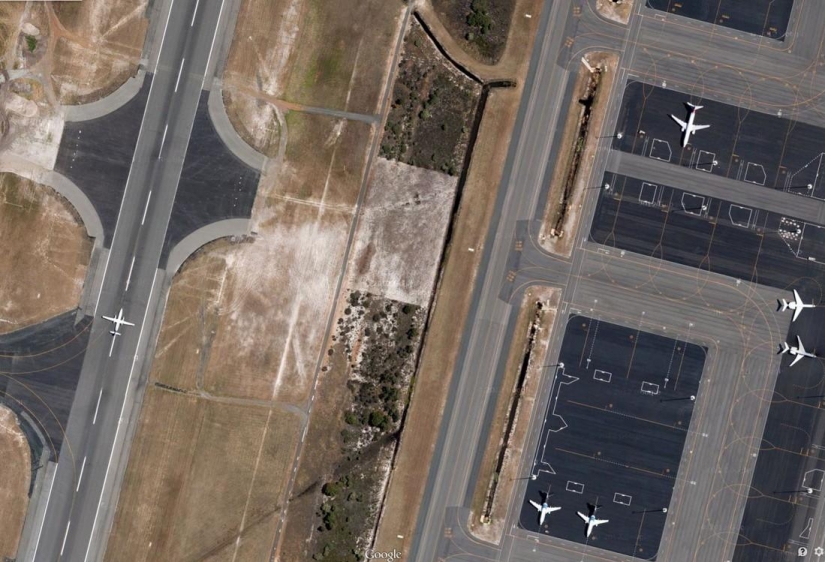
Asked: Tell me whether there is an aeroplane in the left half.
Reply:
Yes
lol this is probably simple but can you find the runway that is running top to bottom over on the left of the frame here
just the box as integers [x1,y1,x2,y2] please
[33,0,225,562]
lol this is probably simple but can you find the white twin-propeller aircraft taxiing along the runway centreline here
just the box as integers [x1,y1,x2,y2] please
[102,308,135,336]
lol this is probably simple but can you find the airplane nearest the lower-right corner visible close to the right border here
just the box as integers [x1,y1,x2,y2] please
[783,335,817,366]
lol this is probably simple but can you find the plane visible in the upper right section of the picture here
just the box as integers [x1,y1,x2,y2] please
[672,102,711,147]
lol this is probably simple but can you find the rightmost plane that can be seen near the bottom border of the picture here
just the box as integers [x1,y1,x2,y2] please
[578,497,609,537]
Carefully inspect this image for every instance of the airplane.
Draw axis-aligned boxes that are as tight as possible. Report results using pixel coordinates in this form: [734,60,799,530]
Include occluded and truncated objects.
[102,308,135,336]
[783,290,816,321]
[672,102,711,147]
[578,497,609,537]
[783,335,817,366]
[532,485,562,525]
